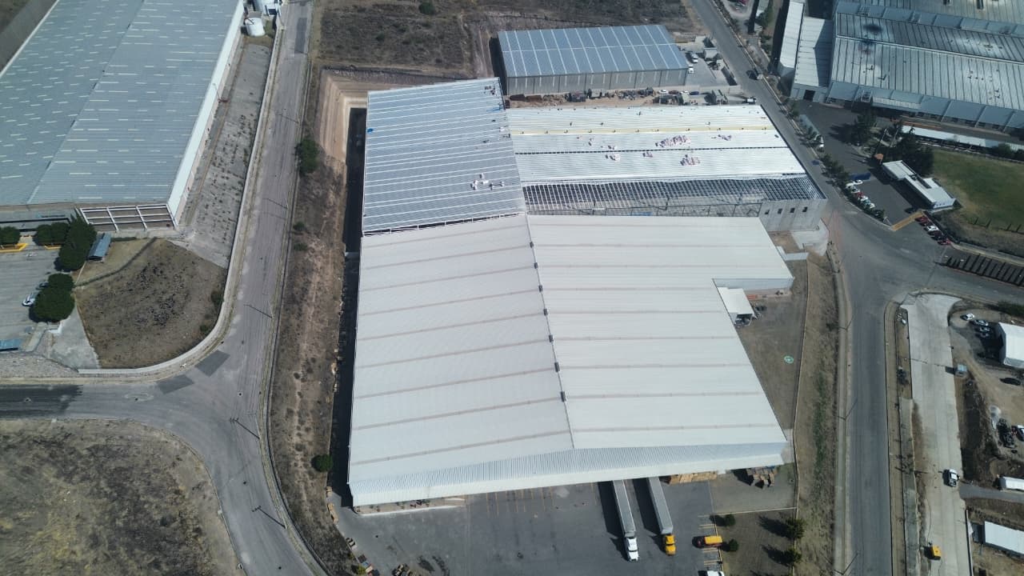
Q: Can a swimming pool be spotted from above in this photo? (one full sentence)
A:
No, this view has no swimming pool in it.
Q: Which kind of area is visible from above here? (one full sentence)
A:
The area seen from above is an industrial area.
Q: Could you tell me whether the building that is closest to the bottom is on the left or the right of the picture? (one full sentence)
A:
The building that is closest to the bottom appears in the right half of the scene.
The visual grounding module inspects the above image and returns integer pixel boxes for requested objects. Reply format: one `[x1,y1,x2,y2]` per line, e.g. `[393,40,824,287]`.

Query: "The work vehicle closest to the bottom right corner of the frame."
[925,543,947,561]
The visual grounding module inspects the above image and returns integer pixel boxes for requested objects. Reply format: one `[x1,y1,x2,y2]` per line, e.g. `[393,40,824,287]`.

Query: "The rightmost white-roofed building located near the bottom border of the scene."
[972,522,1024,561]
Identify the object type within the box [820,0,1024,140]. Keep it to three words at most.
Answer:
building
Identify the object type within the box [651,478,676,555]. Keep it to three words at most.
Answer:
truck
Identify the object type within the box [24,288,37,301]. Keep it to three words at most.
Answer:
vehicle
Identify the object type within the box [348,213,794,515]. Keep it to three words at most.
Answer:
warehouse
